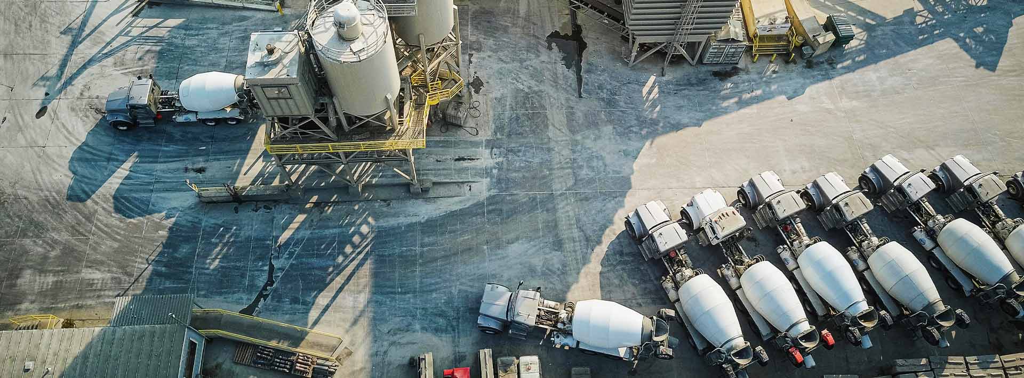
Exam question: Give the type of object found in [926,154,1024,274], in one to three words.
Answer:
truck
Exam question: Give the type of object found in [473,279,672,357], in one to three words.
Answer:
truck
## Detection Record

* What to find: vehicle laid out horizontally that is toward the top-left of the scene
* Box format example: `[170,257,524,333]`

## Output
[103,71,261,132]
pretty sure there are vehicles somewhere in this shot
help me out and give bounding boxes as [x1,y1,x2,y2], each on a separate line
[855,154,1024,312]
[498,358,517,378]
[926,154,1024,274]
[473,279,672,357]
[103,71,261,132]
[735,171,890,337]
[623,200,765,374]
[798,172,964,337]
[520,356,539,378]
[444,368,473,378]
[679,190,831,360]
